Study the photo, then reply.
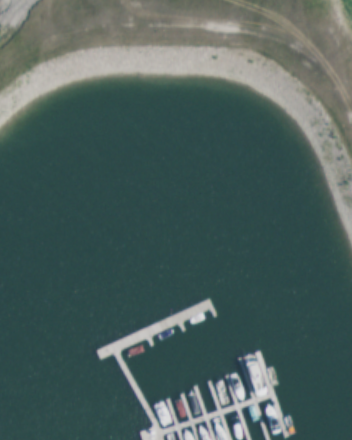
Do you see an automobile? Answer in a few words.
No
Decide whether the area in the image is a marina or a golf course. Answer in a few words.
marina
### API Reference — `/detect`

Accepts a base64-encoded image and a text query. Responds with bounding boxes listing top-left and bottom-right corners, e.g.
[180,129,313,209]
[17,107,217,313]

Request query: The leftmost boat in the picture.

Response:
[128,340,145,356]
